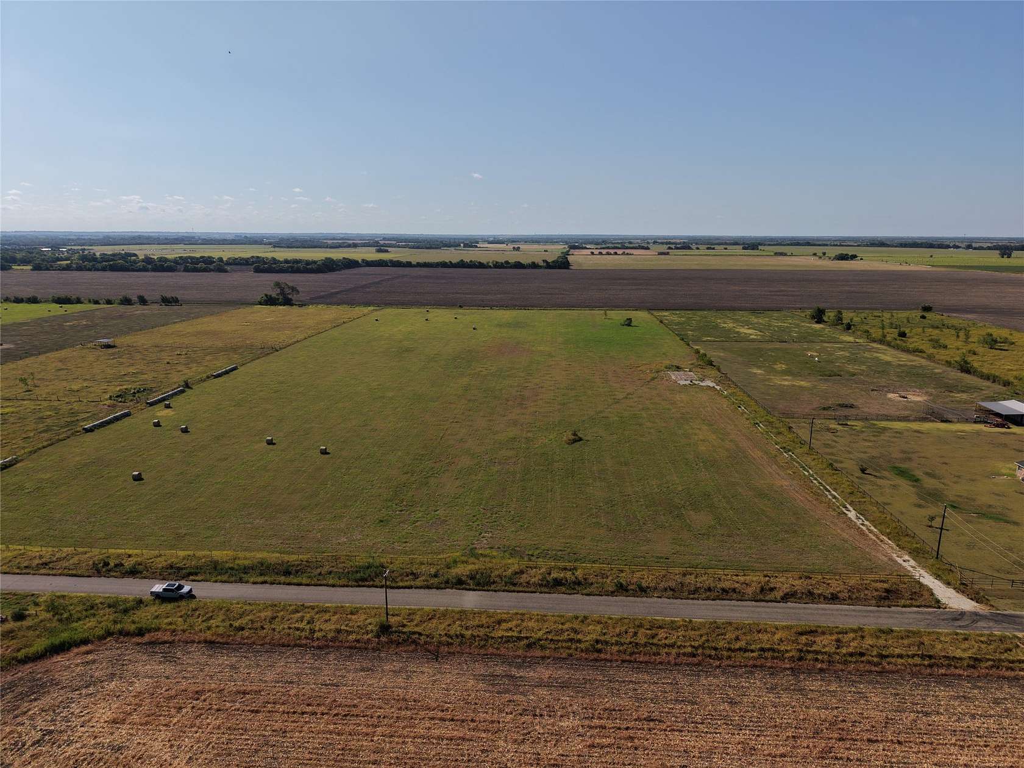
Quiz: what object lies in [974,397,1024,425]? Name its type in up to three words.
barn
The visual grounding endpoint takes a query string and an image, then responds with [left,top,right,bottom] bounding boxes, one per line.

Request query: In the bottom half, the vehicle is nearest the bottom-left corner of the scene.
[147,580,191,598]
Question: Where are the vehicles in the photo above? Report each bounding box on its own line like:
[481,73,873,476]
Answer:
[147,580,191,598]
[995,420,1016,428]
